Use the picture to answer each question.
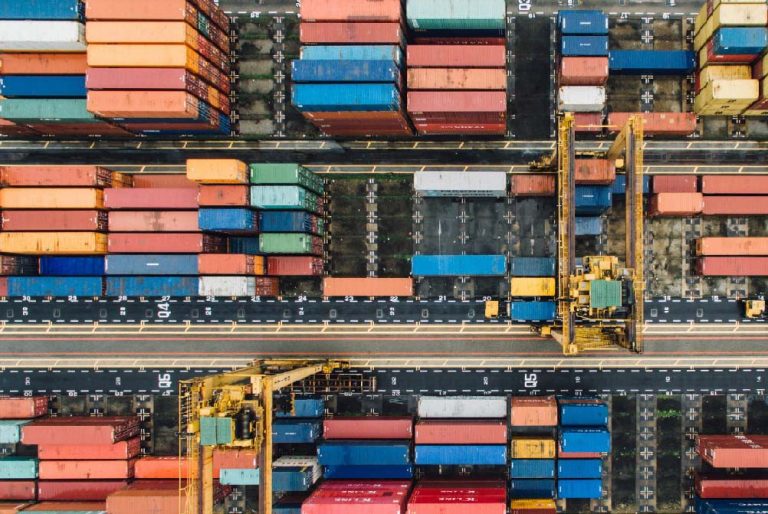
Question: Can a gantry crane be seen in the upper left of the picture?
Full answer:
No, there is no gantry crane in the upper left of the picture.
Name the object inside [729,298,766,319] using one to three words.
vehicle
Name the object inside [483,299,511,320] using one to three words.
vehicle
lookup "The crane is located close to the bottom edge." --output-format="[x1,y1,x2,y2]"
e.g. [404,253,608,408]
[170,360,358,514]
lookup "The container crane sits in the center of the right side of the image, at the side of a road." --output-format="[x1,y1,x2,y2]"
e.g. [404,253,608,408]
[523,111,646,355]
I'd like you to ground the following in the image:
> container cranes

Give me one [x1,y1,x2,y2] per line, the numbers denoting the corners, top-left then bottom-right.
[523,111,646,355]
[170,360,358,514]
